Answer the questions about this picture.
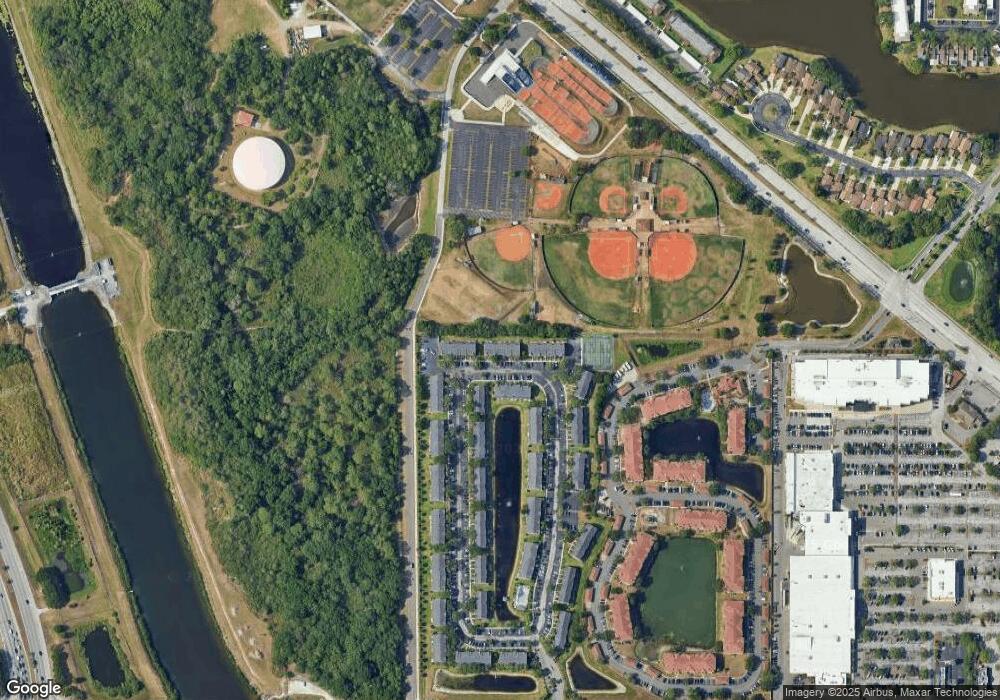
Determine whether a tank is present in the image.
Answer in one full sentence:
Yes, the photo shows a tank.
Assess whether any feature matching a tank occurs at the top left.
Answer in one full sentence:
Yes, a tank can be seen at the top left.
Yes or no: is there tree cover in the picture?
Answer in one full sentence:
Yes, there is tree cover in the image.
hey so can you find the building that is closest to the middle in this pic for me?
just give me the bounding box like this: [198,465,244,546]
[484,343,521,357]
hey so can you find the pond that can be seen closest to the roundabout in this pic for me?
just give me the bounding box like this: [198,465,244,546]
[781,243,856,325]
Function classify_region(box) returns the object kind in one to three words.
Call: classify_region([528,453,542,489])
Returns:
house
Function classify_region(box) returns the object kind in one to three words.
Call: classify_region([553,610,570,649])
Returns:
house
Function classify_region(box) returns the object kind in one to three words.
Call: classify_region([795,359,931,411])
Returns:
building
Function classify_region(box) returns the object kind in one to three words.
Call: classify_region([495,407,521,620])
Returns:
pond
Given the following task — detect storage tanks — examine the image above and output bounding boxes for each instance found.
[231,137,285,189]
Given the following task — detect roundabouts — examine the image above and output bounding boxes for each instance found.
[752,93,791,132]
